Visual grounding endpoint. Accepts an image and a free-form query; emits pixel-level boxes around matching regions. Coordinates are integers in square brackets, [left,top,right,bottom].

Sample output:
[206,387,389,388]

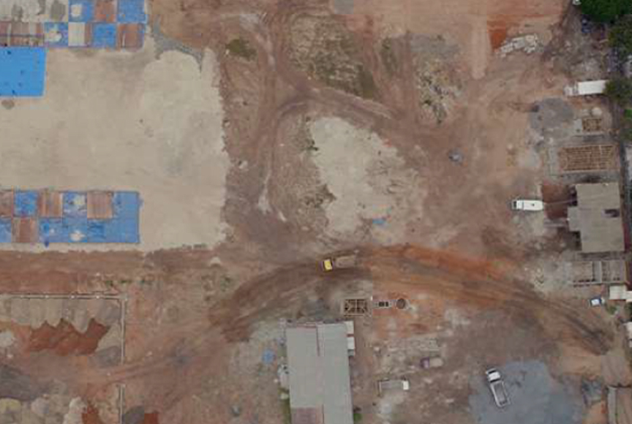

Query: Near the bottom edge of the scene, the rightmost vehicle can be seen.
[486,368,514,411]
